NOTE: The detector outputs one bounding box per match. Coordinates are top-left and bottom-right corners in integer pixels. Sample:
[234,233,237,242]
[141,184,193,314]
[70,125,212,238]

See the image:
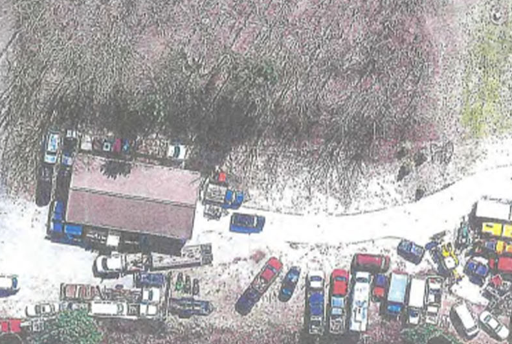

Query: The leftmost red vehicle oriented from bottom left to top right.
[249,259,281,298]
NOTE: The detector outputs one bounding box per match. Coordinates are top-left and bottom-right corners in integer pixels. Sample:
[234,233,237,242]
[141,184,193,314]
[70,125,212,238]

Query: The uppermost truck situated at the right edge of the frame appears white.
[474,198,512,222]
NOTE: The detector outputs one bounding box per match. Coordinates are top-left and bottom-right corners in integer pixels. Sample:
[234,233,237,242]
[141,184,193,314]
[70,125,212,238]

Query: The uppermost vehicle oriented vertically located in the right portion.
[458,217,472,245]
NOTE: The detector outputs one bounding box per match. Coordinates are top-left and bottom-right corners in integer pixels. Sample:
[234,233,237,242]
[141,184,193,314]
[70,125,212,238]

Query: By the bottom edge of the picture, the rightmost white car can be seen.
[478,308,512,341]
